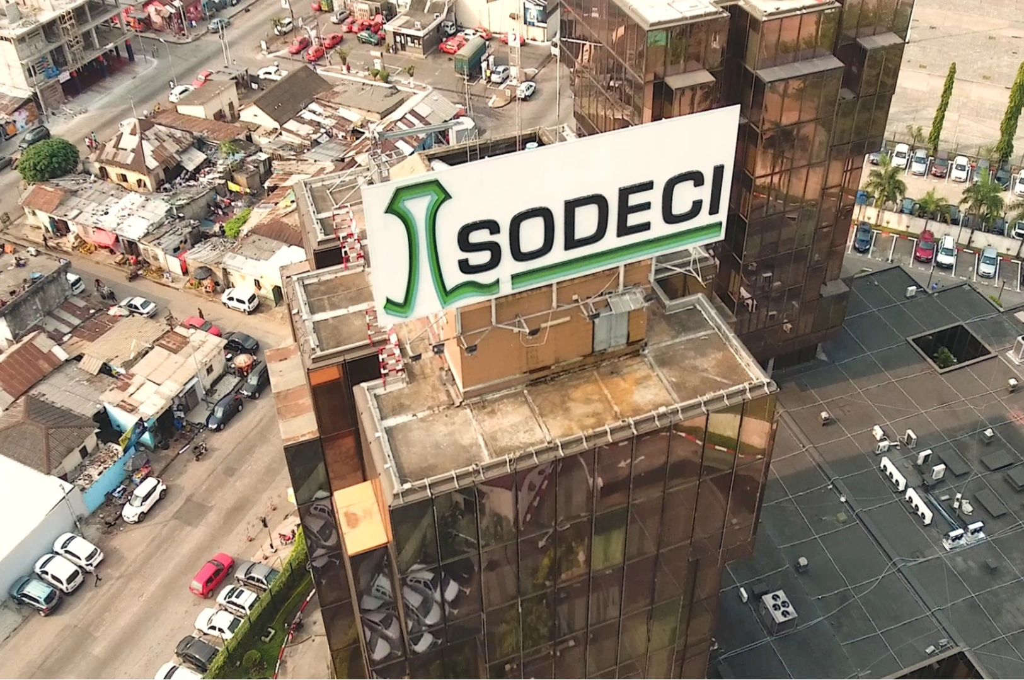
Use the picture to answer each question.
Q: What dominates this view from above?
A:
buildings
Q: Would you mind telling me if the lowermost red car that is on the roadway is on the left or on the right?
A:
left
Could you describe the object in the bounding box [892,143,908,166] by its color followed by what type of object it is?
white car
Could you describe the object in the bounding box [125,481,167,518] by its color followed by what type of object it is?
white car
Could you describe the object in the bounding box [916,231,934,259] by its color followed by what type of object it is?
red car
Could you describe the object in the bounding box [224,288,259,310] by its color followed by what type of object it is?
white vehicle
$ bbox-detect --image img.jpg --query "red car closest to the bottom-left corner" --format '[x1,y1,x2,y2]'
[192,555,231,596]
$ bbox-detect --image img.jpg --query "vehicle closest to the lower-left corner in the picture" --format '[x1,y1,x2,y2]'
[10,579,61,614]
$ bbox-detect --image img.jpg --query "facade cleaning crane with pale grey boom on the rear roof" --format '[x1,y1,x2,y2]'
[379,112,490,173]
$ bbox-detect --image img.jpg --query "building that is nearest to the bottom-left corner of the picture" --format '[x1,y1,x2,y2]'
[0,453,84,601]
